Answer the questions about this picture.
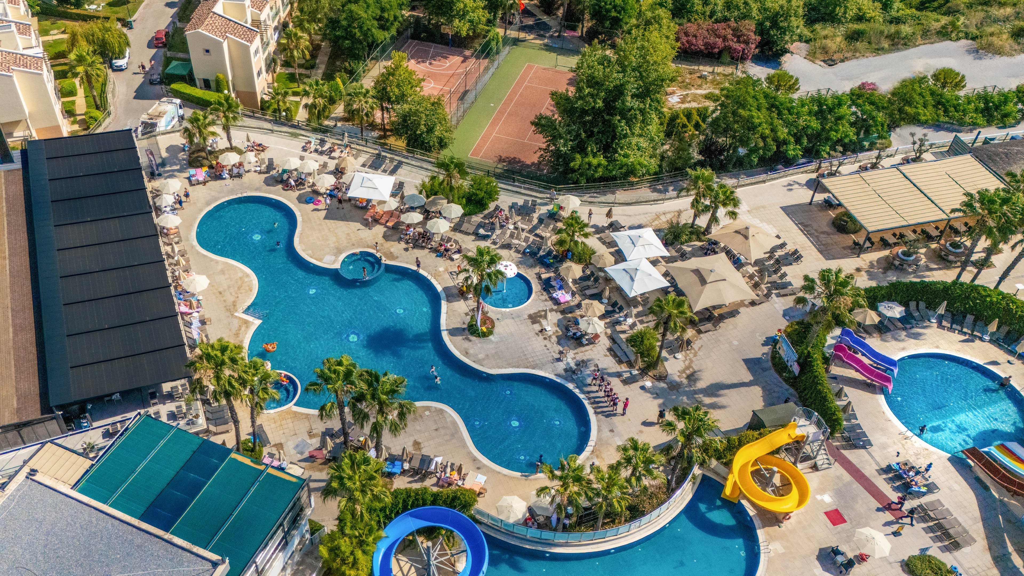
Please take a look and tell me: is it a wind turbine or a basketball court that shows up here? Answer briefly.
basketball court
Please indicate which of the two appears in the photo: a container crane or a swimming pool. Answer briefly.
swimming pool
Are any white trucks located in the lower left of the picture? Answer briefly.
No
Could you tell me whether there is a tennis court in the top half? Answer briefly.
Yes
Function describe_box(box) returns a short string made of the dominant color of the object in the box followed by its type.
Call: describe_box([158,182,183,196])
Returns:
white umbrella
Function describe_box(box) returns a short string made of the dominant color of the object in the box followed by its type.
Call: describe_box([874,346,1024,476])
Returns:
blue swimming pool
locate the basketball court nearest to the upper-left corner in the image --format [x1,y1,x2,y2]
[348,40,489,125]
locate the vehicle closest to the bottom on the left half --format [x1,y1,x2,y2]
[136,97,184,138]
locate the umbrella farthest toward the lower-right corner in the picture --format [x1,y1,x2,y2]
[849,525,891,565]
